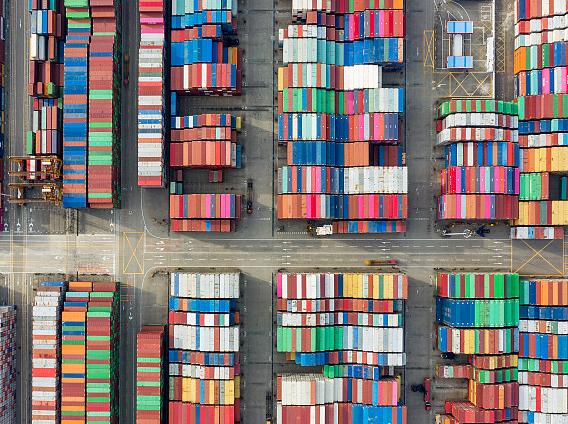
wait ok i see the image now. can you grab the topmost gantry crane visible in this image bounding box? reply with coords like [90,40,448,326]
[2,155,64,181]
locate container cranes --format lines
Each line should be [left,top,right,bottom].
[2,183,64,207]
[2,155,64,181]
